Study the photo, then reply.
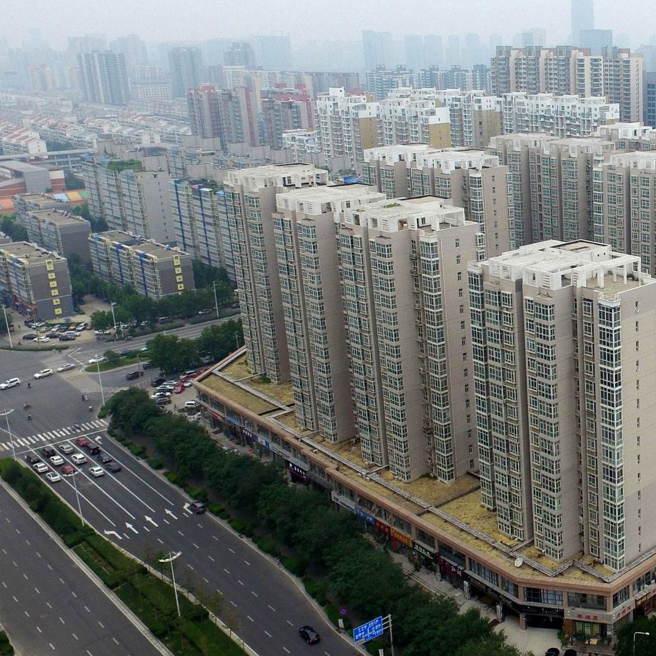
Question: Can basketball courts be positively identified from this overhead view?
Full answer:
No, I can see no basketball court in this picture.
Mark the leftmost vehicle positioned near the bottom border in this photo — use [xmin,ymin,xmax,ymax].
[295,625,324,647]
